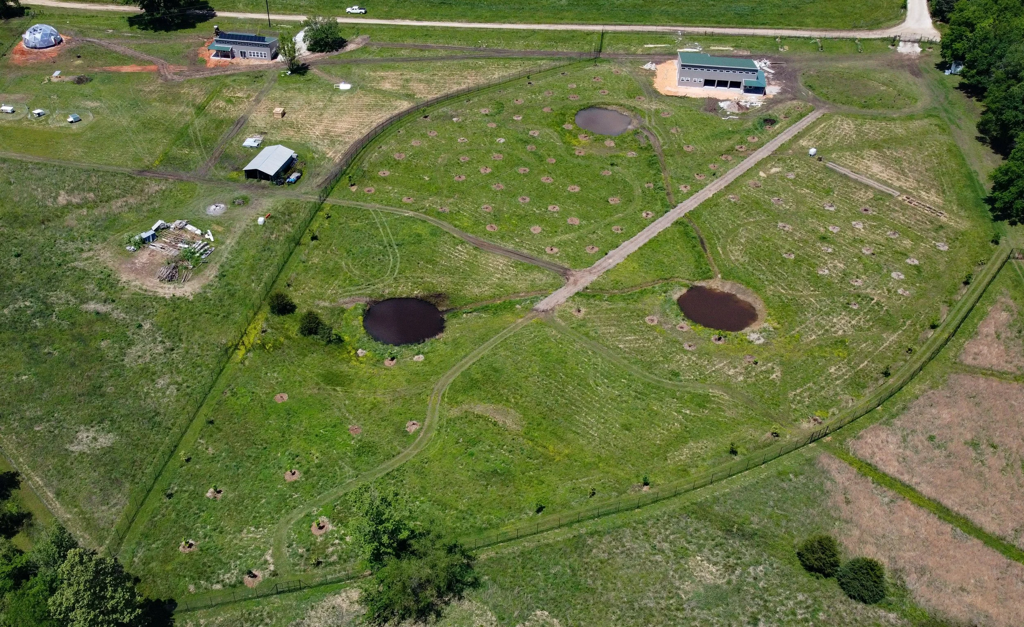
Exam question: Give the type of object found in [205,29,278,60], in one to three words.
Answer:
house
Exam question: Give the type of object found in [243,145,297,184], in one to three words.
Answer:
barn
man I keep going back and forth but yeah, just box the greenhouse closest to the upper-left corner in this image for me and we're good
[21,21,62,49]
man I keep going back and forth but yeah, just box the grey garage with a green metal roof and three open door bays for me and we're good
[677,52,769,95]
